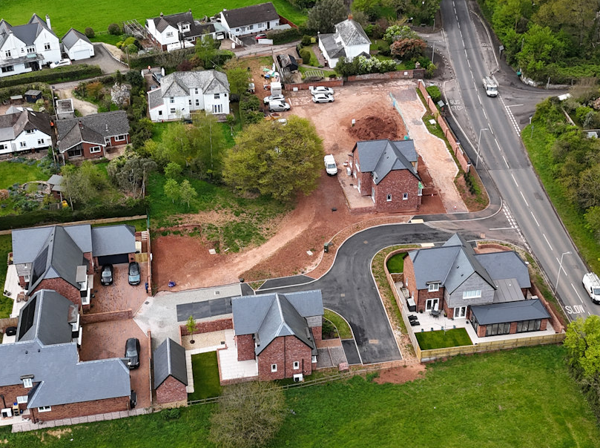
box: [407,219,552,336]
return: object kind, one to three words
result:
house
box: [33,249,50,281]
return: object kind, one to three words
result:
solar panel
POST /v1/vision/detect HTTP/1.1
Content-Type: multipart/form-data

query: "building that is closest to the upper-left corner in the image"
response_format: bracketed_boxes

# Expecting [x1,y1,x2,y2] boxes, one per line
[0,7,60,70]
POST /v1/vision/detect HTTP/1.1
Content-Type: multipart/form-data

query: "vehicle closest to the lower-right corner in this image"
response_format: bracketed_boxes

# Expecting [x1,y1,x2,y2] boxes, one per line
[586,274,600,304]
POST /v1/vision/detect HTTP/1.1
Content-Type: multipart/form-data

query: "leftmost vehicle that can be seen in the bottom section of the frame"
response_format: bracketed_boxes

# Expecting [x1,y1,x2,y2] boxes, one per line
[98,266,113,287]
